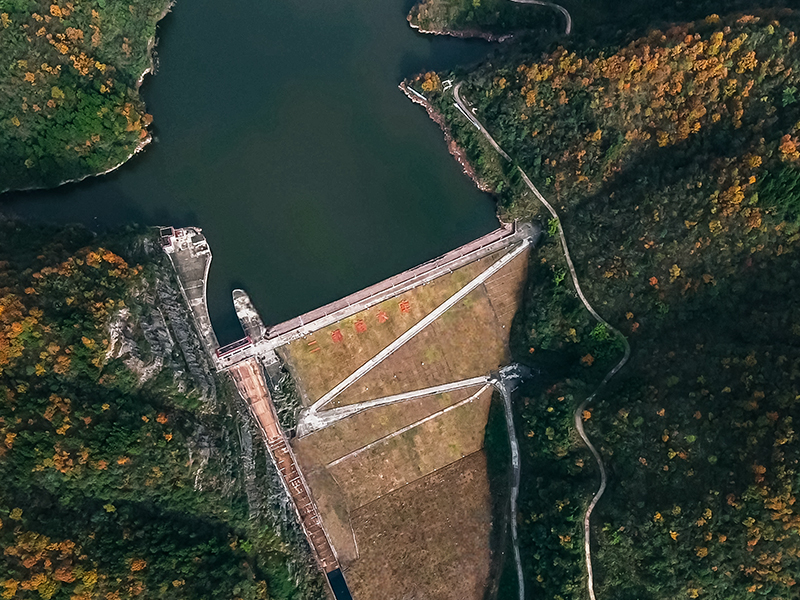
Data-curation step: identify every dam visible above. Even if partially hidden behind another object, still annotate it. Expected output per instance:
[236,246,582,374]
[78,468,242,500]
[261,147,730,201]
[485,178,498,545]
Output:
[266,213,533,600]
